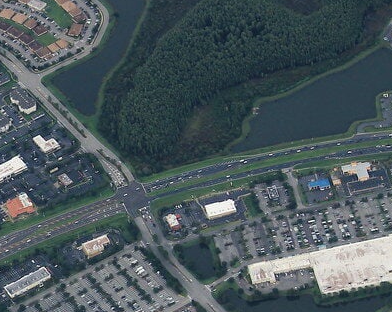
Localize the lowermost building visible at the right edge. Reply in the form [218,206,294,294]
[247,234,392,298]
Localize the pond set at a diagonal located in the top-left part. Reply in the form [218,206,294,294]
[53,0,148,116]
